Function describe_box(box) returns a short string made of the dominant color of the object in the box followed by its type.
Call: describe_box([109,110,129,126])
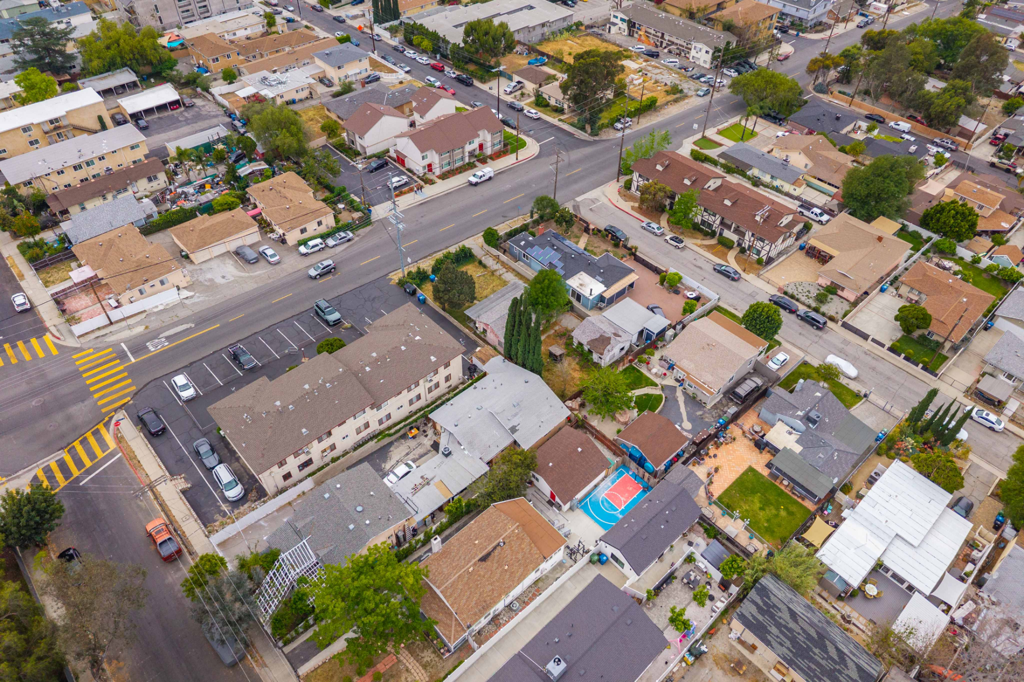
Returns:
gray car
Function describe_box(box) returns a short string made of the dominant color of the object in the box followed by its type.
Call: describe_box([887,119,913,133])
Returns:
white vehicle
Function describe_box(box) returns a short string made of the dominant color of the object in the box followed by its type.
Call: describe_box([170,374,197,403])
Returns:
white car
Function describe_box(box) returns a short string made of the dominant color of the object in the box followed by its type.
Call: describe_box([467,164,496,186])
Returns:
white vehicle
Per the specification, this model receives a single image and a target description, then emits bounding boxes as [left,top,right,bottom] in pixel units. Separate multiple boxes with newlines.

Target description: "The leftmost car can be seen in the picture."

[10,292,31,314]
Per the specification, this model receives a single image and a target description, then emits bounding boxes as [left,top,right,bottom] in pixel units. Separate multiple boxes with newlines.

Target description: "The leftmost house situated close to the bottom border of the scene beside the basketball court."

[420,499,568,651]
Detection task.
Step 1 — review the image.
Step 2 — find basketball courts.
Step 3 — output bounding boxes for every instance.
[579,465,651,531]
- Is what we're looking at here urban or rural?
urban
